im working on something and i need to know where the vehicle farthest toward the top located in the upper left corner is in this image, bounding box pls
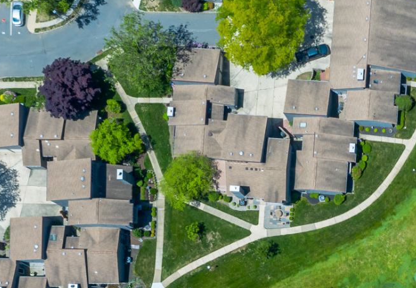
[12,1,26,28]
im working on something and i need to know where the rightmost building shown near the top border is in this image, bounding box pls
[329,0,416,98]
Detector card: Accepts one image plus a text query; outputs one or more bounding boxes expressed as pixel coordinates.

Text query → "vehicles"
[12,1,26,28]
[295,45,331,63]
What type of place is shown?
residential area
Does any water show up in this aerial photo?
No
